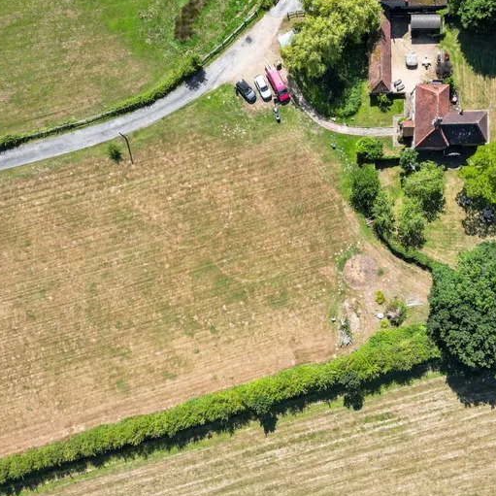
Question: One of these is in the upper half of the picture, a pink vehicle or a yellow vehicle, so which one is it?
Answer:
pink vehicle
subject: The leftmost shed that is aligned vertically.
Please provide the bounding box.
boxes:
[368,7,392,92]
